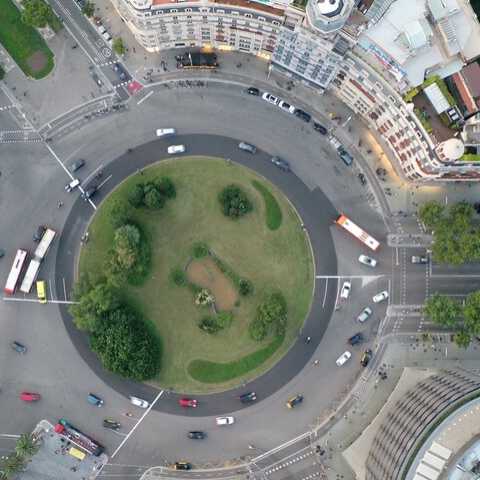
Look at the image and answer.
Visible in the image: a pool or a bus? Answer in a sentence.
The image shows a bus.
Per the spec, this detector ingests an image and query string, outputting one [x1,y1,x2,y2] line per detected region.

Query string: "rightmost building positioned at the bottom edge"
[342,367,480,480]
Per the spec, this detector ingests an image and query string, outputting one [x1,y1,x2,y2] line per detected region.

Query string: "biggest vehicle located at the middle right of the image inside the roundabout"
[331,211,381,253]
